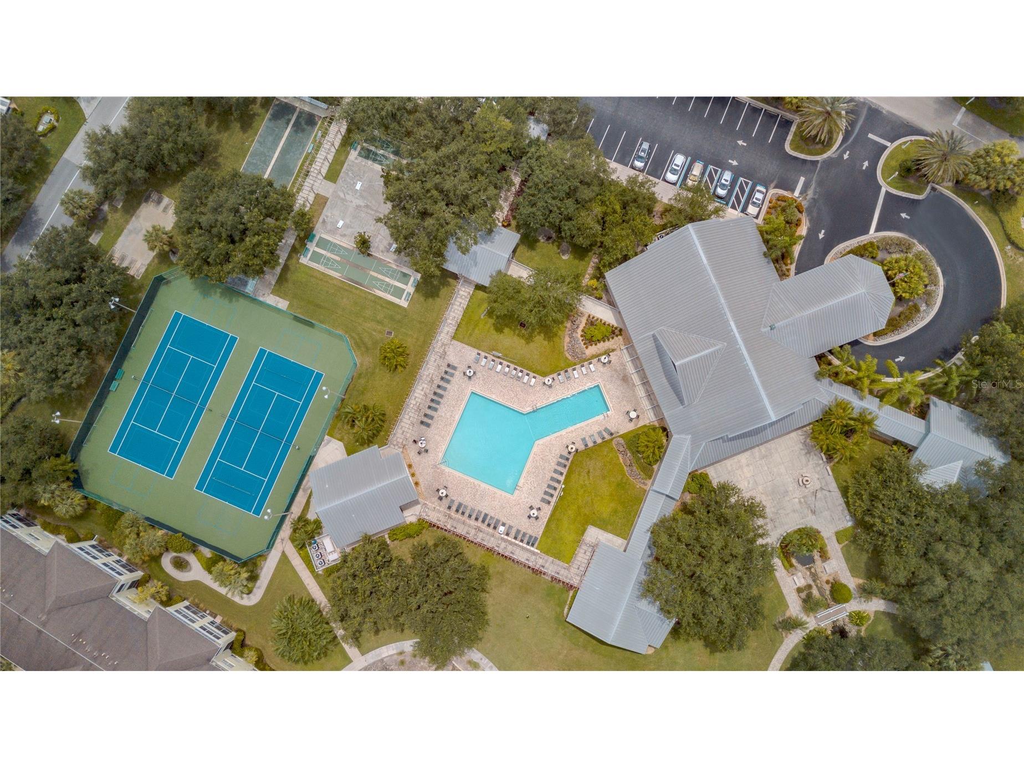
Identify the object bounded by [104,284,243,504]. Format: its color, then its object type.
blue tennis court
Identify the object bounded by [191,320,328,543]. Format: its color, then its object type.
blue tennis court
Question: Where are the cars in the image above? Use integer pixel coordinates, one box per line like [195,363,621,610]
[666,151,686,184]
[685,158,706,189]
[746,184,767,218]
[715,168,733,199]
[633,140,651,171]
